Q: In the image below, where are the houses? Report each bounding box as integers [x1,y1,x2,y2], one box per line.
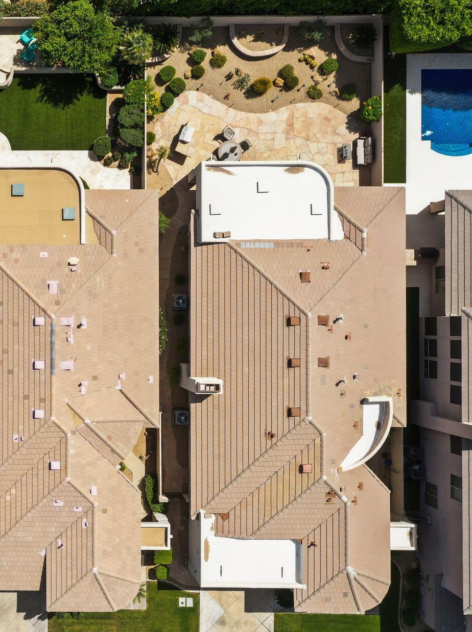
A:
[411,189,472,632]
[0,155,174,614]
[180,153,419,613]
